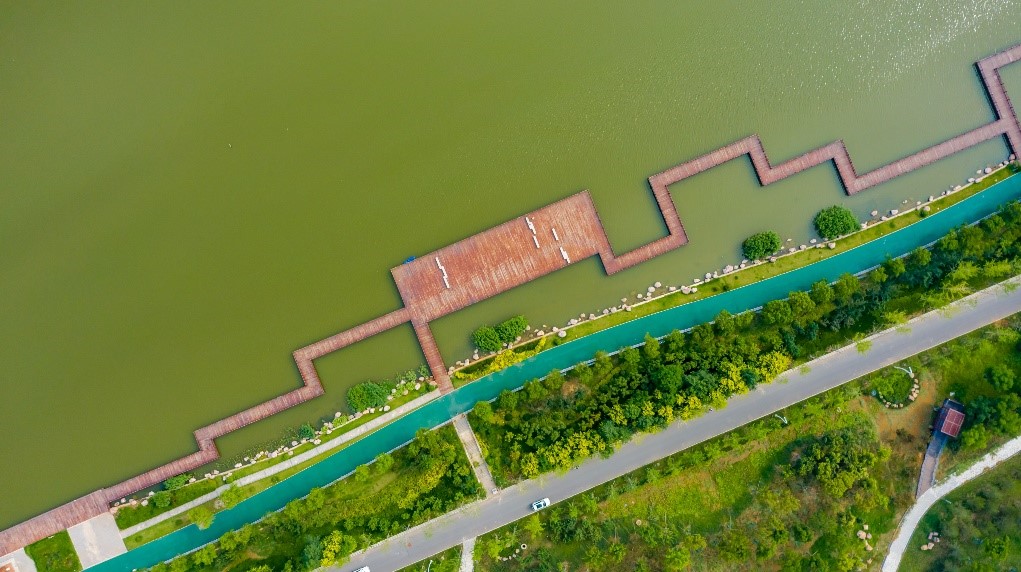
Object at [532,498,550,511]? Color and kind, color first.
white vehicle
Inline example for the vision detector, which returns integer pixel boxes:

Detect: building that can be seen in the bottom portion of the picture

[931,399,965,437]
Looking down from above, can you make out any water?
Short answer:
Yes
